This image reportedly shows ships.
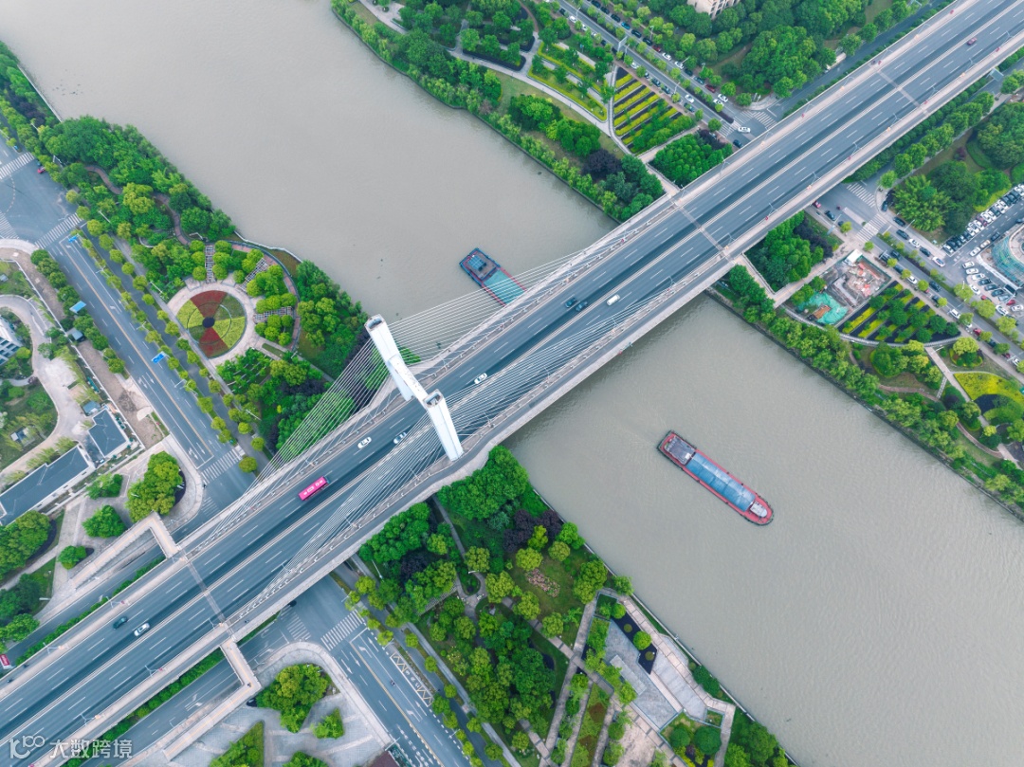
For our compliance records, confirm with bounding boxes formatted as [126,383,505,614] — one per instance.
[657,429,775,525]
[460,247,528,304]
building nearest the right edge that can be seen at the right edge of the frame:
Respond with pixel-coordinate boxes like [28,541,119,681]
[985,219,1024,283]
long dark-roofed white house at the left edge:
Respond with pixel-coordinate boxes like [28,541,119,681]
[0,446,98,524]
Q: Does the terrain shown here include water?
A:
Yes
